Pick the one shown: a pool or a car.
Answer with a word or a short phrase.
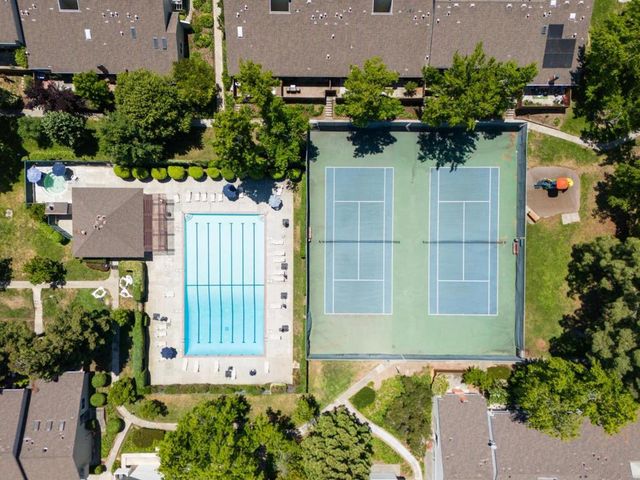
pool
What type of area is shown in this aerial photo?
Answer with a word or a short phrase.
residential area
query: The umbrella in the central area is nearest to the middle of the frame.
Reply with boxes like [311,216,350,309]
[269,194,282,208]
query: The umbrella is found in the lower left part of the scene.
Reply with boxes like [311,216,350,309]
[161,346,174,359]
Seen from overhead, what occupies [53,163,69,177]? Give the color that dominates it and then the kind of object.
blue umbrella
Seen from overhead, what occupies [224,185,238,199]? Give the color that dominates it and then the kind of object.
blue umbrella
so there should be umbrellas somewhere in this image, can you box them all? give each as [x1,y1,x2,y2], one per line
[29,168,44,182]
[224,185,238,199]
[269,194,282,208]
[53,163,69,177]
[161,346,174,359]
